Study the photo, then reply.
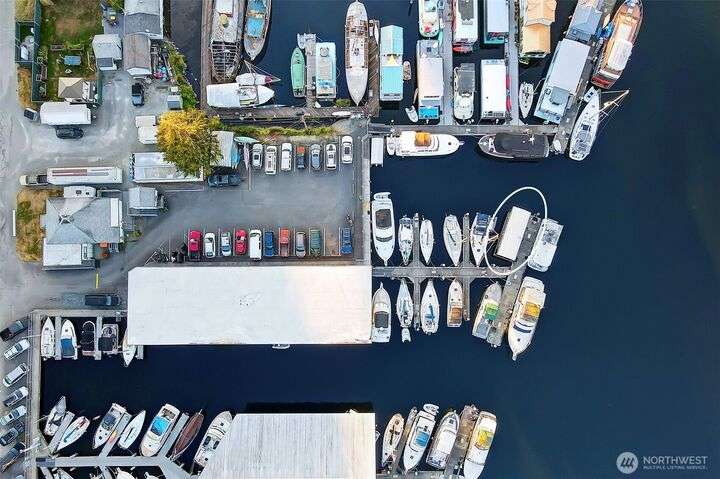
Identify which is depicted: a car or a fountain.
car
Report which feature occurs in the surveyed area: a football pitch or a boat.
boat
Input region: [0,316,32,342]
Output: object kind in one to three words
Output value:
truck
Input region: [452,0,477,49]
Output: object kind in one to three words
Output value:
boat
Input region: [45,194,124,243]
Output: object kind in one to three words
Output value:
house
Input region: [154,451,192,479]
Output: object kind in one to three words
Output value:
pier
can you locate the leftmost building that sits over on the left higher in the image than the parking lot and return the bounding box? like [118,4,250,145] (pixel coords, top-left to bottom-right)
[57,77,90,102]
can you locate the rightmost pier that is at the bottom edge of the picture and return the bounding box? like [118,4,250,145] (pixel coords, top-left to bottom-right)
[378,405,477,479]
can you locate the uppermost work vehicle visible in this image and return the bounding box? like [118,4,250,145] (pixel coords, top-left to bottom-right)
[105,11,119,32]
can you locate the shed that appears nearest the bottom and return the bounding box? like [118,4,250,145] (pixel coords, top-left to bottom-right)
[202,407,376,479]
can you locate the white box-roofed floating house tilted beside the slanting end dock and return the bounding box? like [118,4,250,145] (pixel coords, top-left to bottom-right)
[493,206,531,263]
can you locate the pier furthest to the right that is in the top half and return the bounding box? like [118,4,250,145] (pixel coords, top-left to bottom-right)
[555,0,619,154]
